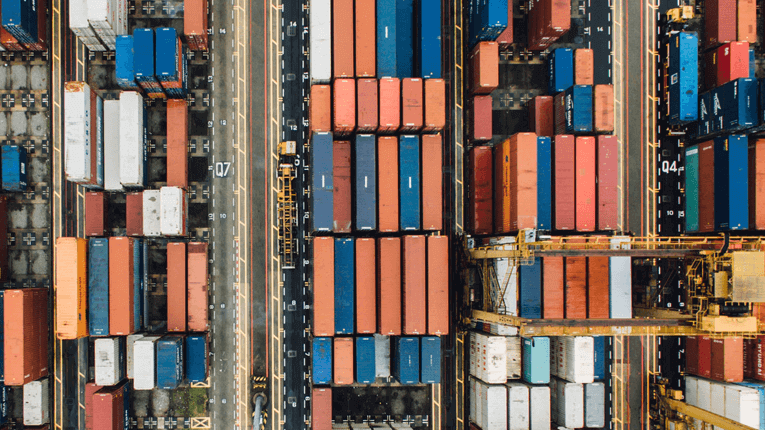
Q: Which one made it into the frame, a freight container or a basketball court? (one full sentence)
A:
There is a freight container in the scene.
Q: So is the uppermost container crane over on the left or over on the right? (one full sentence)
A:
The uppermost container crane sits on the right side.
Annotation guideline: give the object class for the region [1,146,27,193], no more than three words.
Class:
shipping container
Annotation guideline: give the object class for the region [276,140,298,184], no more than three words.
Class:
truck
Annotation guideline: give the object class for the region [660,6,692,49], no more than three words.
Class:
truck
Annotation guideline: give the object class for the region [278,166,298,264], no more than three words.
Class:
trailer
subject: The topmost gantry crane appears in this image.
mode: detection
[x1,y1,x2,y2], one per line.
[453,227,765,345]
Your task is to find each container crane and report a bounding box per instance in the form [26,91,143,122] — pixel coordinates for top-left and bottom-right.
[453,227,765,345]
[644,375,765,430]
